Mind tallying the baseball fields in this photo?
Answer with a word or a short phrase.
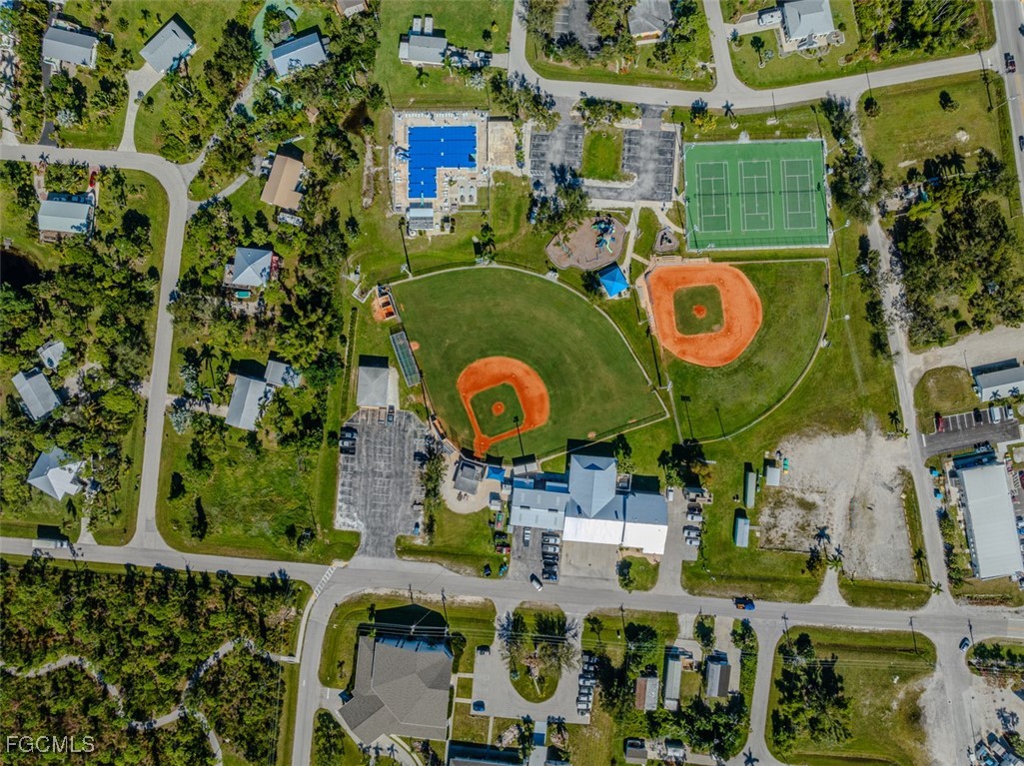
2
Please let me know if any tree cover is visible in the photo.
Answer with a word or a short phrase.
Yes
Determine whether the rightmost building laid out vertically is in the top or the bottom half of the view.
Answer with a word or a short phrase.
bottom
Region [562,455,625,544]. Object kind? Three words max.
building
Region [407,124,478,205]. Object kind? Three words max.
swimming pool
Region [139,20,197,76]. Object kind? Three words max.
house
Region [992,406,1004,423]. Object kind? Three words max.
vehicle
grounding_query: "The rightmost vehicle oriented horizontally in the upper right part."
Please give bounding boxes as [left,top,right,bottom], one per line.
[758,8,783,21]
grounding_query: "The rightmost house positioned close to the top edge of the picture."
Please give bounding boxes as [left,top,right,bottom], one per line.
[783,0,834,42]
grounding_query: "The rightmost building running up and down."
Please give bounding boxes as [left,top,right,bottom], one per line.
[955,463,1024,580]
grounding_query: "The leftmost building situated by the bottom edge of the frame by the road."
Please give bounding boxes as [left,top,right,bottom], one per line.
[339,634,452,745]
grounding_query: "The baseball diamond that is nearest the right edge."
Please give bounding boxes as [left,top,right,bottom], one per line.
[650,260,829,444]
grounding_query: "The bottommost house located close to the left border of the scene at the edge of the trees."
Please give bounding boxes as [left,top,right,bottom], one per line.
[28,448,91,501]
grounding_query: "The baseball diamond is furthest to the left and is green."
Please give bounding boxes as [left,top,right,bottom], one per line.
[391,267,665,463]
